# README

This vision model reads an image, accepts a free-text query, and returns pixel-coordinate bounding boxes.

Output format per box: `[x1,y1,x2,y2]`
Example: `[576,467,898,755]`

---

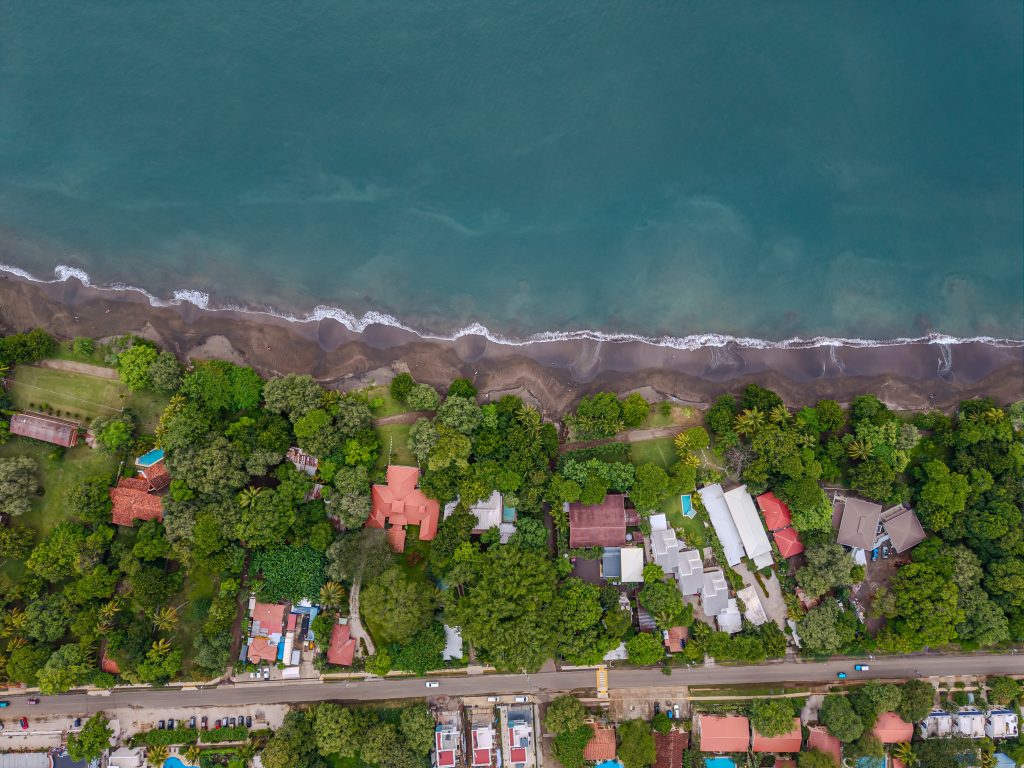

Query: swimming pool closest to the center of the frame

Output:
[503,506,516,522]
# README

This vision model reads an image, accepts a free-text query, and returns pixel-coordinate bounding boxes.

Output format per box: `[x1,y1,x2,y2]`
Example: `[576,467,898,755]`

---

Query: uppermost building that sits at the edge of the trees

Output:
[10,410,79,447]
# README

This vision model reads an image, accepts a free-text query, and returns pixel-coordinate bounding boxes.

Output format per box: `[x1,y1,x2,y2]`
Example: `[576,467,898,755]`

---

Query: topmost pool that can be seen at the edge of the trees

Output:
[136,448,164,467]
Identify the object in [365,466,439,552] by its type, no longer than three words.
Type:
house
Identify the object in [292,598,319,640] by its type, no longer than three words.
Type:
building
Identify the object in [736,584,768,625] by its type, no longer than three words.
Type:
building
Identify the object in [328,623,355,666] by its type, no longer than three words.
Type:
house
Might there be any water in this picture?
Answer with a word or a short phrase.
Yes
